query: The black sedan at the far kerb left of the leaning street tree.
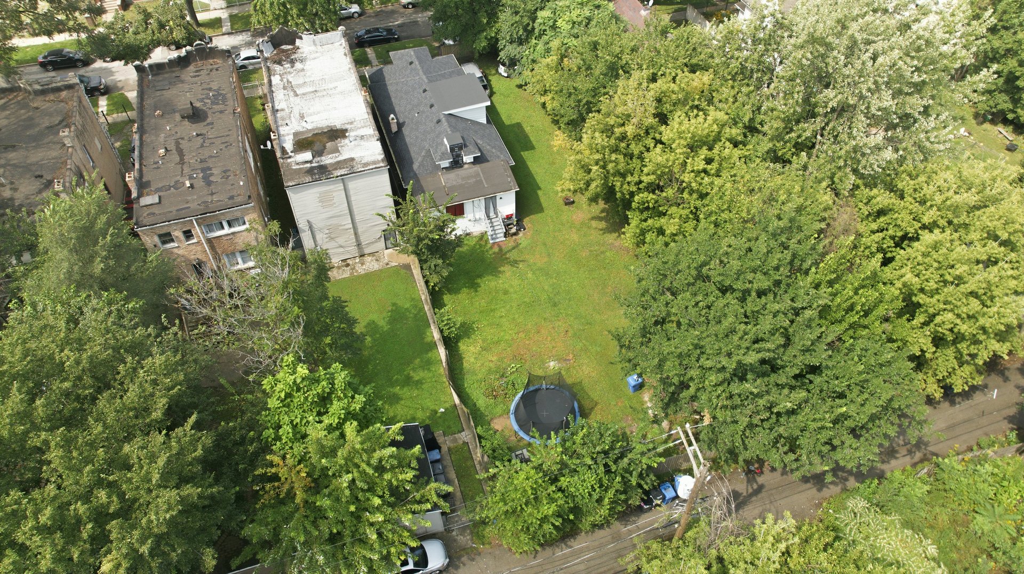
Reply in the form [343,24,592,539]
[32,47,88,71]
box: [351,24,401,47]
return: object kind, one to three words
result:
car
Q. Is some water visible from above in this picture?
No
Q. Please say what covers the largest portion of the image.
trees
